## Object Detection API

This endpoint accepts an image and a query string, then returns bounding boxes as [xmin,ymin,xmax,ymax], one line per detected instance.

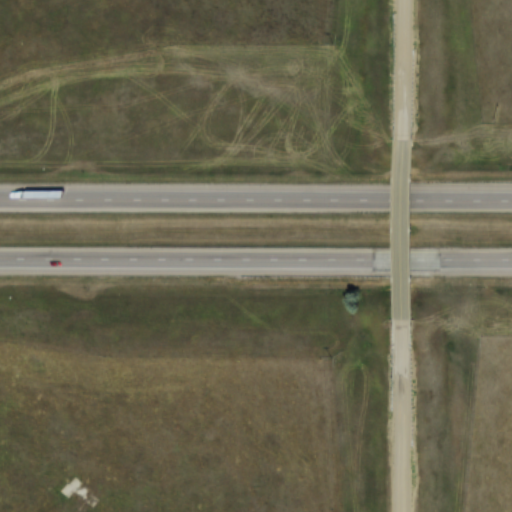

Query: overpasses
[390,139,412,324]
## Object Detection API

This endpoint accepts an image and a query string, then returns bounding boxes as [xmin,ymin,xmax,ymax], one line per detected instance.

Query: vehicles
[50,260,61,265]
[10,192,62,200]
